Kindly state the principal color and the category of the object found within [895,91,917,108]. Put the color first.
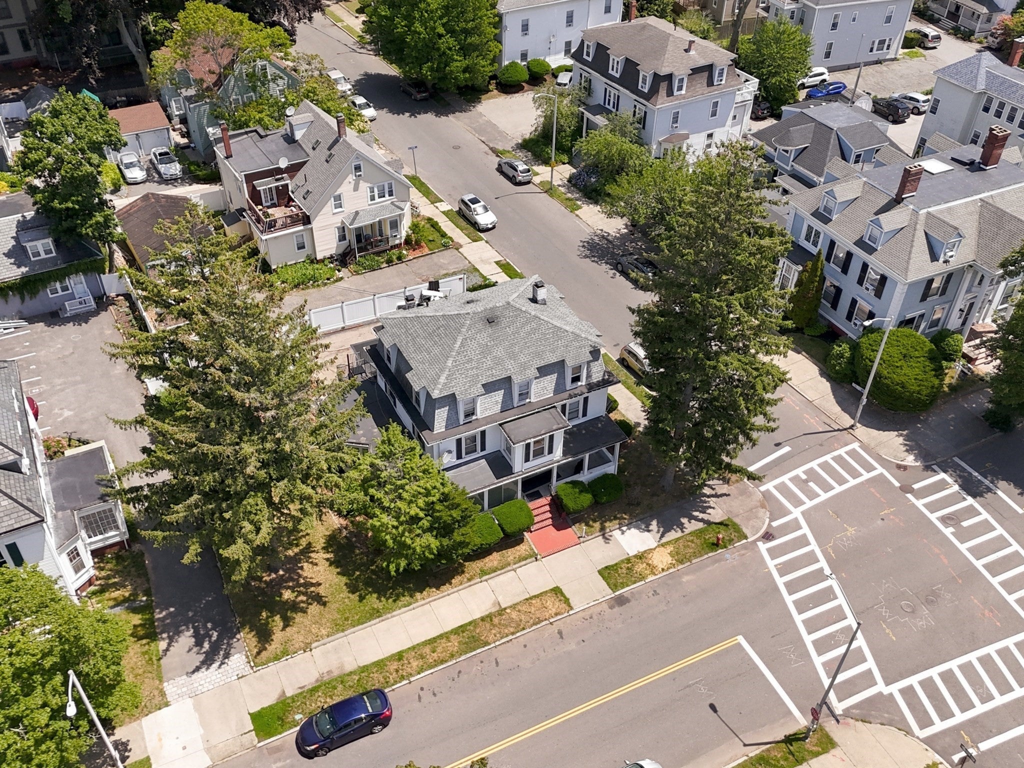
gray car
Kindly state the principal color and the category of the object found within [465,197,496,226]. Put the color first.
white car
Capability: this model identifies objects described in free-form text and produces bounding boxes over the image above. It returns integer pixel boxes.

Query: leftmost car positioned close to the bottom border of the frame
[292,686,393,756]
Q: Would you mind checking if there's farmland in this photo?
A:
No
